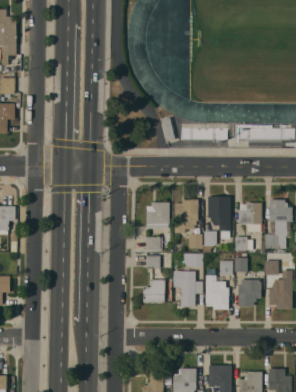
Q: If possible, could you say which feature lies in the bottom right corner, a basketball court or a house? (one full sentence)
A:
You can see a house in the bottom right corner.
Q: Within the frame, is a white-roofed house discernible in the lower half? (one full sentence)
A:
Yes, a white-roofed house is visible in the lower half.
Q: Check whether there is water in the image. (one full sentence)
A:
No, water can't be seen anywhere here.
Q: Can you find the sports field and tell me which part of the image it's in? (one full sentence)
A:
You can find the sports field in the top right area of the picture.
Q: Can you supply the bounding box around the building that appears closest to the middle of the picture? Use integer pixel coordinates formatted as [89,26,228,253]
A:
[147,202,171,228]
